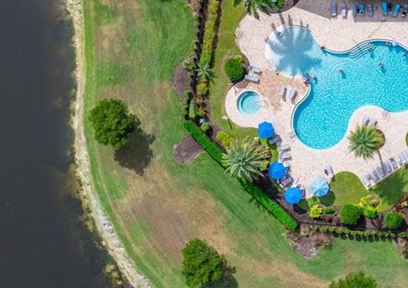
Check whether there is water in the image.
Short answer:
Yes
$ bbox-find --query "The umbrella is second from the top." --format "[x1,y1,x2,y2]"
[268,162,286,180]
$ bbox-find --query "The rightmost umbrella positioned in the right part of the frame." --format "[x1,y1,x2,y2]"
[310,176,330,196]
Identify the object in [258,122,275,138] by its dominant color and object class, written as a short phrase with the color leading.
blue umbrella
